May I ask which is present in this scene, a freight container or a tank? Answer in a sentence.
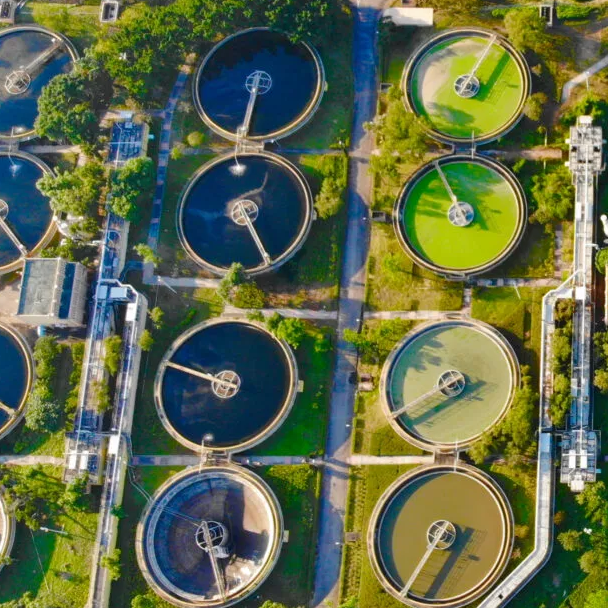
There is a tank in the scene.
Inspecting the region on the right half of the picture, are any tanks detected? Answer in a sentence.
Yes, a tank shows up on the right half of the picture.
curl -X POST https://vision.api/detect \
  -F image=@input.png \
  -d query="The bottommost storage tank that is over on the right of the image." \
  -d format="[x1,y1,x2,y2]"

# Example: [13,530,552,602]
[368,464,514,608]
